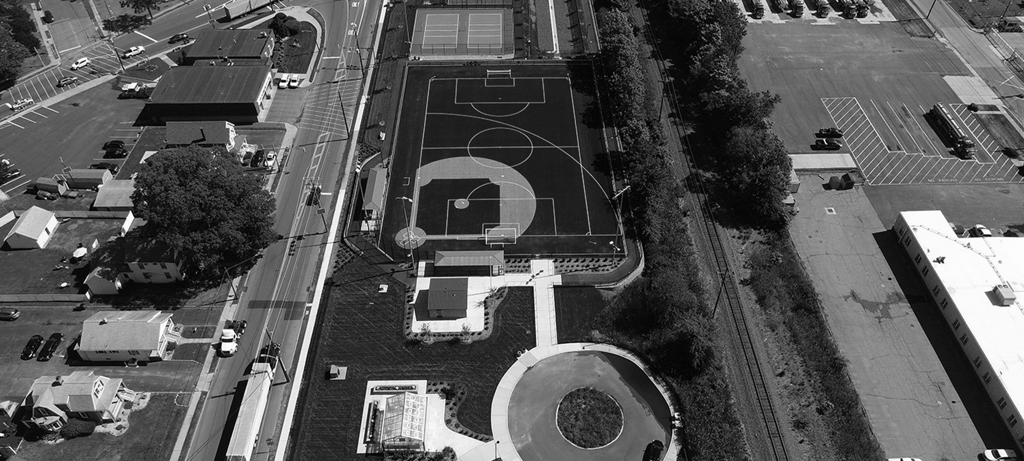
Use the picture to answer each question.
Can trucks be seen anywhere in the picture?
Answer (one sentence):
Yes, a truck can be made out from above.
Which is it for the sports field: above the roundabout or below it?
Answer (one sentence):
Relative to the roundabout, the sports field lies above it.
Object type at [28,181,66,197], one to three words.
shed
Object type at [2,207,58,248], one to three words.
building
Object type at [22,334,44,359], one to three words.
car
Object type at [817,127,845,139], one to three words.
vehicle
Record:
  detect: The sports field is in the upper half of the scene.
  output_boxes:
[380,60,632,261]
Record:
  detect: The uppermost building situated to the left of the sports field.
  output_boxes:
[144,29,280,123]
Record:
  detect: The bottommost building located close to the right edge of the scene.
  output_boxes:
[890,210,1024,457]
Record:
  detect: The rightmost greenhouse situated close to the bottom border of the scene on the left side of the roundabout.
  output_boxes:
[381,391,427,450]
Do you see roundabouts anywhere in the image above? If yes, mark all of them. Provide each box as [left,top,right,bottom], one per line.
[506,350,674,461]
